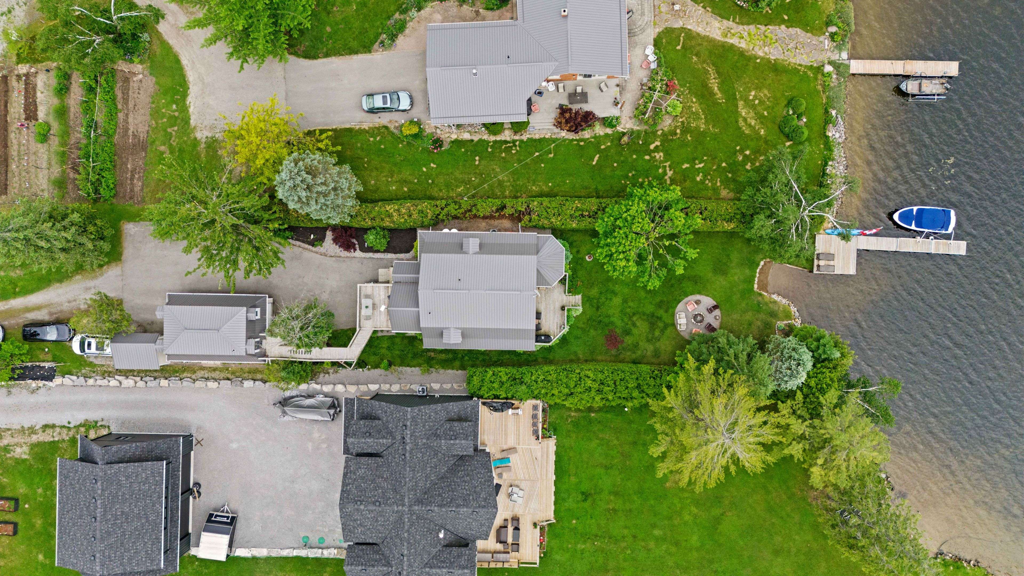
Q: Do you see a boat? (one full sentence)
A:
Yes, the frame does contain a boat.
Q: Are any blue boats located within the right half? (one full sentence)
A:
Yes, a blue boat can be seen within the right half.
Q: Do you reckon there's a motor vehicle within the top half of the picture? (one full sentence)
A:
Yes, you'll find a motor vehicle within the top half of the picture.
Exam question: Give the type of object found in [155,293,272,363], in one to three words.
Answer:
building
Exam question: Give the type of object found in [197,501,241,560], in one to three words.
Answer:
trailer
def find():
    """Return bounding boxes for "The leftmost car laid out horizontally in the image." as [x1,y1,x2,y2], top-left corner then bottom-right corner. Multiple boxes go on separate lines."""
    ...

[19,322,75,344]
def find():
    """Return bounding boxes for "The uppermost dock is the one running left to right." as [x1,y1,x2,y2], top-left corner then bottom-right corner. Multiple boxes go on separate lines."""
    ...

[847,58,961,79]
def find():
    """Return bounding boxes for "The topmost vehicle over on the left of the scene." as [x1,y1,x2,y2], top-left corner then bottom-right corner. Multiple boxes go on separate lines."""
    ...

[361,89,412,115]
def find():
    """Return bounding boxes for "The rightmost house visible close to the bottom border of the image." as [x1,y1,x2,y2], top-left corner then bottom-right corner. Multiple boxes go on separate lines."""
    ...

[339,392,497,576]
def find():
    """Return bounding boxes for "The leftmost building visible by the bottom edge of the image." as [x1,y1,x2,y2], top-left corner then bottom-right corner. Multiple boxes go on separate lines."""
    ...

[54,432,195,576]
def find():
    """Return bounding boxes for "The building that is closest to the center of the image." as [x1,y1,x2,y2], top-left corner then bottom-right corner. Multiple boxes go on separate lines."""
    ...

[387,230,566,351]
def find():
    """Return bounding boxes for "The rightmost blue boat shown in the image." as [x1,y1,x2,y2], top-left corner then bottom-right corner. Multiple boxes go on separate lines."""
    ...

[893,207,955,234]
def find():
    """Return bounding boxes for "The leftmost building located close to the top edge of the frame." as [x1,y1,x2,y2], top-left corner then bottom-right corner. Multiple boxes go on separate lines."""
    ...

[426,0,630,126]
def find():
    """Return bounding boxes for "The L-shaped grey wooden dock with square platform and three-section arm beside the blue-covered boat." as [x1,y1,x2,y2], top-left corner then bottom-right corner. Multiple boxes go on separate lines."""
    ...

[811,234,969,275]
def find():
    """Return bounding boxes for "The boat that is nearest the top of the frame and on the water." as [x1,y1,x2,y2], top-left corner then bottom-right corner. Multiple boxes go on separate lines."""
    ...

[899,78,953,94]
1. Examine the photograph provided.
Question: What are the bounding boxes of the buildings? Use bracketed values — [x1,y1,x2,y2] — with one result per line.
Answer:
[387,230,566,351]
[155,293,272,363]
[339,392,497,576]
[54,432,195,576]
[426,0,630,126]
